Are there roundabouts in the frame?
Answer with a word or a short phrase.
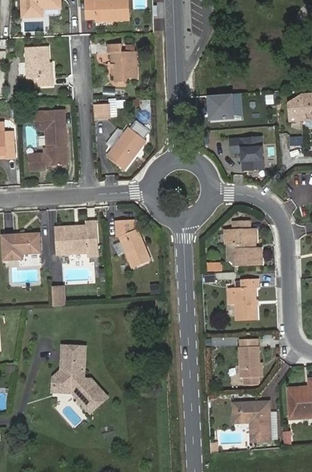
Yes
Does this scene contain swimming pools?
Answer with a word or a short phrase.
Yes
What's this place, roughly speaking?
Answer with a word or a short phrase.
residential area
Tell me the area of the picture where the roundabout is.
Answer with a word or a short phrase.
center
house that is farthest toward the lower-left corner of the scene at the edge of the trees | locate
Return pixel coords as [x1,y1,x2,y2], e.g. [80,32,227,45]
[50,344,110,414]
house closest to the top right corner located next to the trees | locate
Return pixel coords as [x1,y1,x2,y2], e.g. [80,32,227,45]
[288,93,312,122]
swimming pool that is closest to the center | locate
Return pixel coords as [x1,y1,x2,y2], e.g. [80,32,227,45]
[65,267,91,282]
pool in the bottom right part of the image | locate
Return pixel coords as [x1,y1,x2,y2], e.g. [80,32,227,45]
[220,431,243,444]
